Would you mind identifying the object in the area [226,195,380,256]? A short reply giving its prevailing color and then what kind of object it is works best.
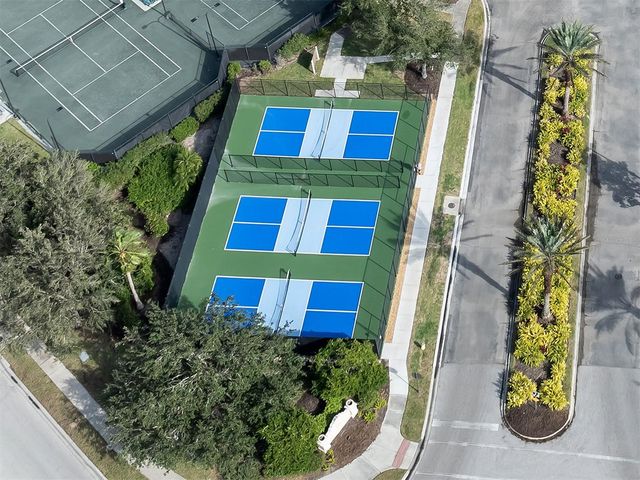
blue sports court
